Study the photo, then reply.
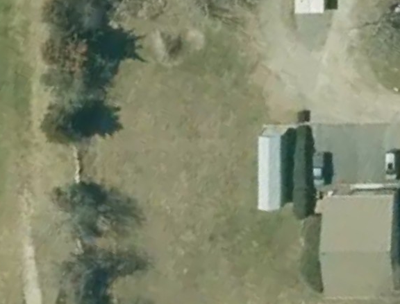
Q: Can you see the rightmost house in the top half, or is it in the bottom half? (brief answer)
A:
bottom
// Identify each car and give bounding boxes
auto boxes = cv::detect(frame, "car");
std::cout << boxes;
[312,153,325,181]
[385,148,398,176]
